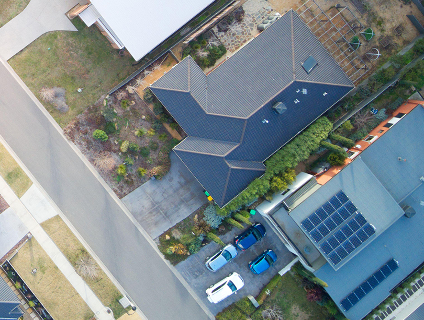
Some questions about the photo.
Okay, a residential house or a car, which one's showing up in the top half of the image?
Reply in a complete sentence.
Looking in the top half of the image, you will find a residential house.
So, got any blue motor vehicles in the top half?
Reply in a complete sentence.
No, there's no blue motor vehicle to be seen in the top half.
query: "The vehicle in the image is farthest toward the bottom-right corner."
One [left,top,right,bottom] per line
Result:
[246,247,279,278]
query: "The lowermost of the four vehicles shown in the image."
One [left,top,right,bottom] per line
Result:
[205,272,247,307]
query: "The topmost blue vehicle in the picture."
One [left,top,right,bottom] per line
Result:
[233,222,270,254]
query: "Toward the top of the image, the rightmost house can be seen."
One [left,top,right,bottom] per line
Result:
[148,9,356,207]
